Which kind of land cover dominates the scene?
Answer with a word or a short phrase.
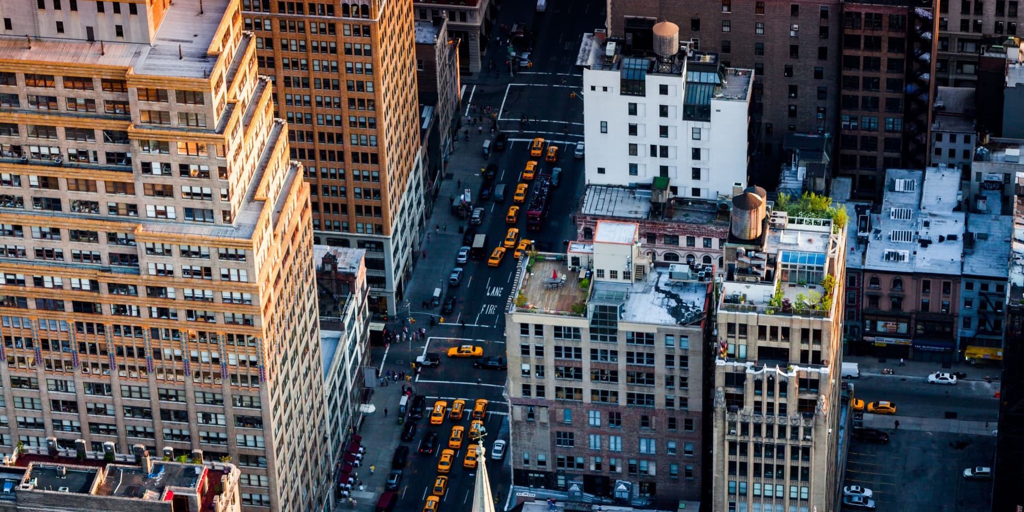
buildings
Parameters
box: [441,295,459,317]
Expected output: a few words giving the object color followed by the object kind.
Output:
black car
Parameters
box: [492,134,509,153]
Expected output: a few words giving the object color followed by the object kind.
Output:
black car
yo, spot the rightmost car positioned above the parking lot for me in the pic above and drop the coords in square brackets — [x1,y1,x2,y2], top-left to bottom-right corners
[924,372,959,387]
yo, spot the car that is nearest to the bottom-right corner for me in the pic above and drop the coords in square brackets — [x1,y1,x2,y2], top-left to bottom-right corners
[961,465,994,482]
